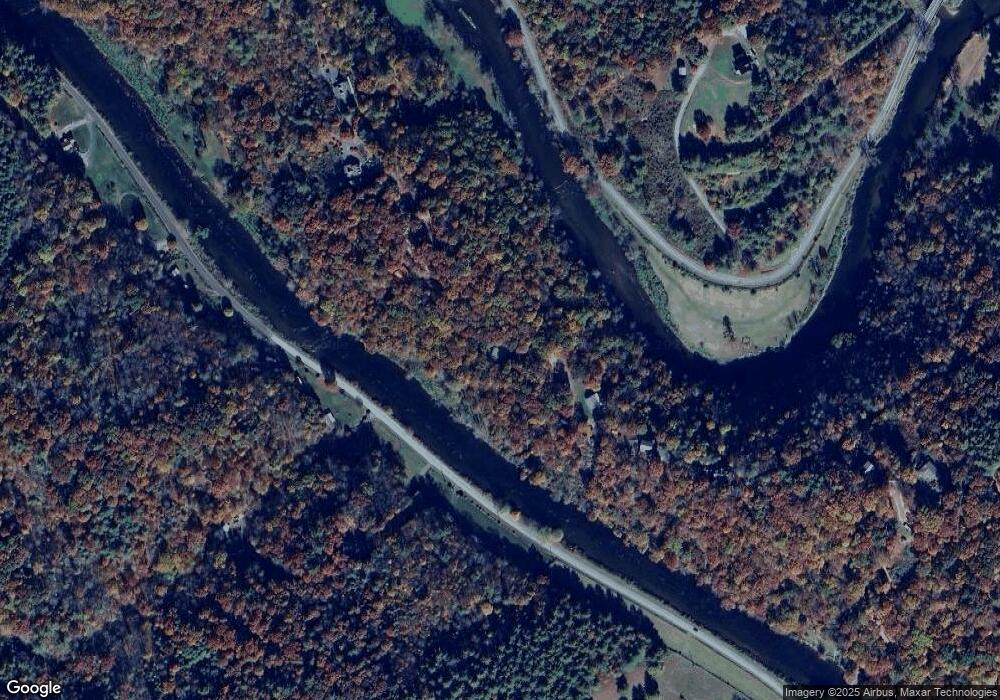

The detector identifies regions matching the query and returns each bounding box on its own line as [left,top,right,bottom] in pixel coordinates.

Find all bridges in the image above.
[904,0,941,52]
